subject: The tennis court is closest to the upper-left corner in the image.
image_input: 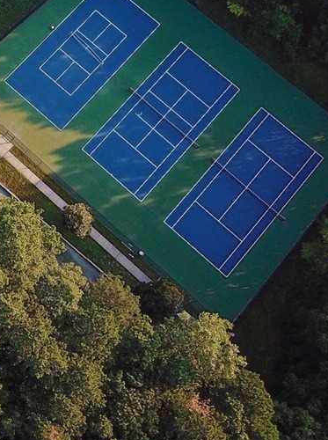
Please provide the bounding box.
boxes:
[7,0,162,130]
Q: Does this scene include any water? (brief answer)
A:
No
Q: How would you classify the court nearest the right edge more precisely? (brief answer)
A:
tennis court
